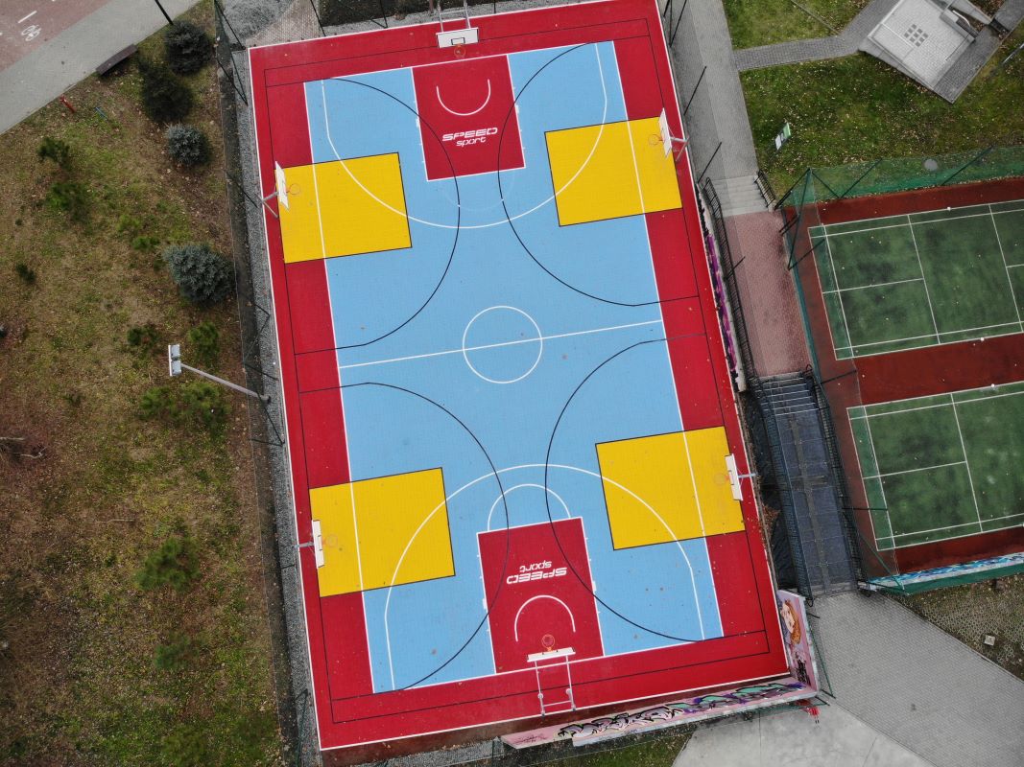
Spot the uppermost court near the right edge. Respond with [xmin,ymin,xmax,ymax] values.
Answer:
[808,198,1024,360]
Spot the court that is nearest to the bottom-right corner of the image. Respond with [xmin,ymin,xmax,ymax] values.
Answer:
[847,382,1024,551]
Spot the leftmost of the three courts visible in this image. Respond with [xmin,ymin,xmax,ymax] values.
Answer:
[249,0,791,750]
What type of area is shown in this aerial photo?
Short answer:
sports ground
